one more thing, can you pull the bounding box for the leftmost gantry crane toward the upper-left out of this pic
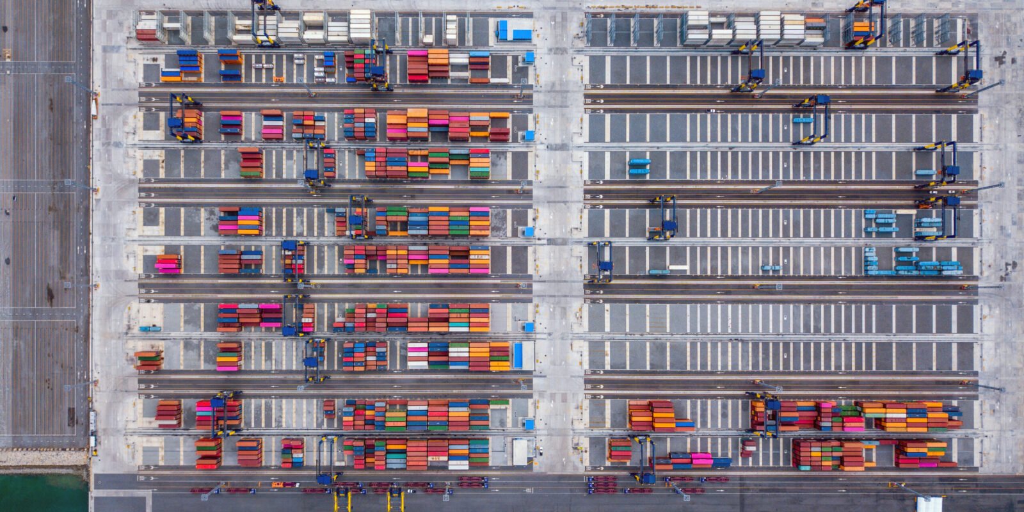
[168,93,204,142]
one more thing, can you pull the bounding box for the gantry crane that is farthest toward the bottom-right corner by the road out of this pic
[746,393,782,441]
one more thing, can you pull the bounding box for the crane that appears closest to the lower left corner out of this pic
[208,391,241,439]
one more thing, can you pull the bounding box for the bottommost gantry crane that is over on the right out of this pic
[627,437,656,487]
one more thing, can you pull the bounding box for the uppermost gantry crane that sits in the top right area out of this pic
[846,0,887,48]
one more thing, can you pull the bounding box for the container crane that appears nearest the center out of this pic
[587,240,614,283]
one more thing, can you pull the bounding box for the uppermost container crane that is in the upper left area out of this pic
[251,0,281,46]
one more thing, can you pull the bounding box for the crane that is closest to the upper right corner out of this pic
[936,40,983,92]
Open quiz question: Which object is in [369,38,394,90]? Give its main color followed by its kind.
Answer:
blue container crane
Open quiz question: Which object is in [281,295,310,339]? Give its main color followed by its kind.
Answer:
blue container crane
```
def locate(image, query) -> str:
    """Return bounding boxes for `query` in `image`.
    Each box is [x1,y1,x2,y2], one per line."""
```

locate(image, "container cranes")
[208,391,241,439]
[746,393,782,441]
[316,436,343,486]
[281,239,311,282]
[914,141,960,188]
[281,295,310,339]
[369,38,394,90]
[846,0,887,48]
[587,240,614,283]
[251,0,281,46]
[627,437,656,487]
[936,40,983,92]
[305,139,333,186]
[792,95,831,144]
[914,196,960,241]
[731,39,766,91]
[168,93,204,142]
[303,340,331,385]
[348,195,374,239]
[647,196,678,240]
